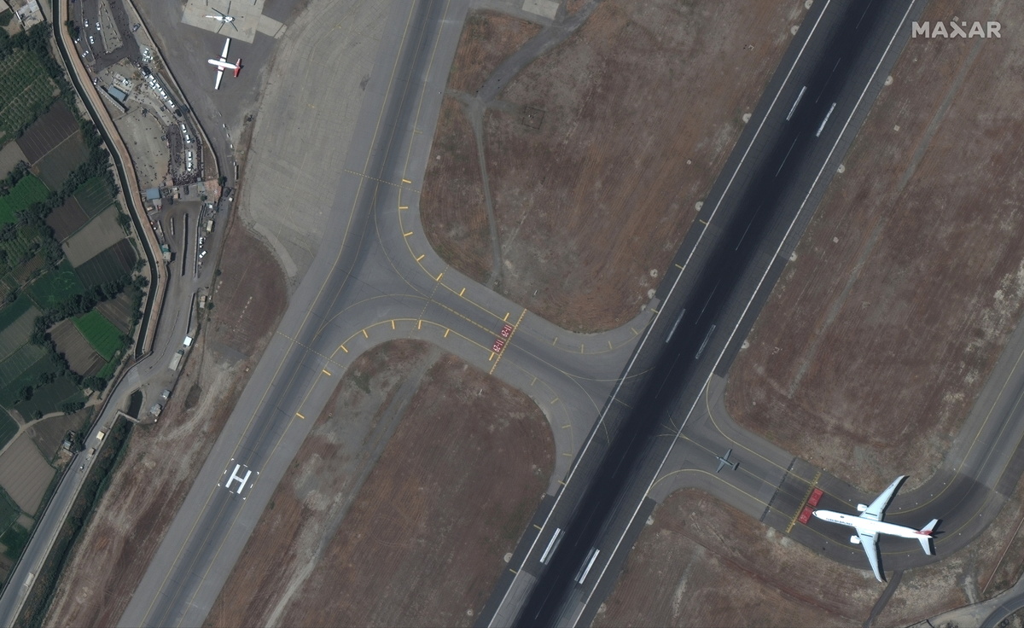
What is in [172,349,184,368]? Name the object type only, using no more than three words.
vehicle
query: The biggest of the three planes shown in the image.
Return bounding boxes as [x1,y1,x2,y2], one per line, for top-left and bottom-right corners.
[812,476,938,582]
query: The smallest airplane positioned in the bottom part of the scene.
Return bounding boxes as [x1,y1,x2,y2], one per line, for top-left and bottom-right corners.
[717,448,737,472]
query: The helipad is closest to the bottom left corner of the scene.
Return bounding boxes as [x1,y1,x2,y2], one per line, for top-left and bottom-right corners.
[219,459,259,500]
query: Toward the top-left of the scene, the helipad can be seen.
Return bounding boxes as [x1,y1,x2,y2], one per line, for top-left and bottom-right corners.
[181,0,287,43]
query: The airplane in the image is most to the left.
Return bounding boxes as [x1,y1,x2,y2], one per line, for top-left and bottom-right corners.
[208,38,242,88]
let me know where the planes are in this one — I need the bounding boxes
[717,448,737,472]
[812,476,938,582]
[208,38,242,88]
